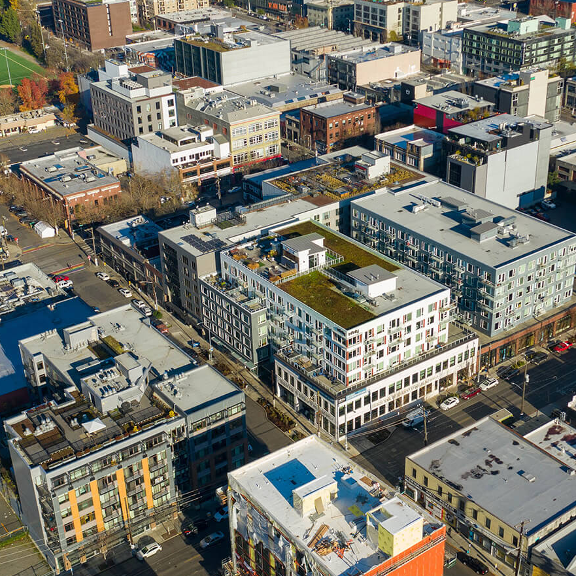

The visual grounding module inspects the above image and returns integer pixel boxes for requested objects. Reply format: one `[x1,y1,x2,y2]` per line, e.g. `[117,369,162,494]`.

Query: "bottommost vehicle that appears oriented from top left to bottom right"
[463,555,487,574]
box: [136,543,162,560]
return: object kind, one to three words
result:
car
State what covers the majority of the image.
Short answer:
buildings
